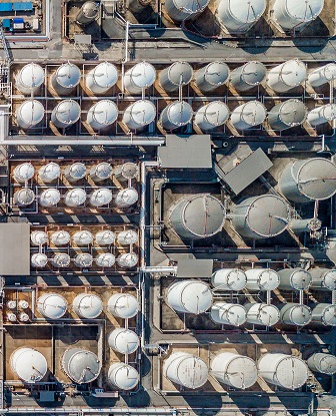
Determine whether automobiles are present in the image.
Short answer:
No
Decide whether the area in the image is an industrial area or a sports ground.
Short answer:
industrial area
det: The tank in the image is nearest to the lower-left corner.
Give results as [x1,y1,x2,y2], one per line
[8,343,47,383]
